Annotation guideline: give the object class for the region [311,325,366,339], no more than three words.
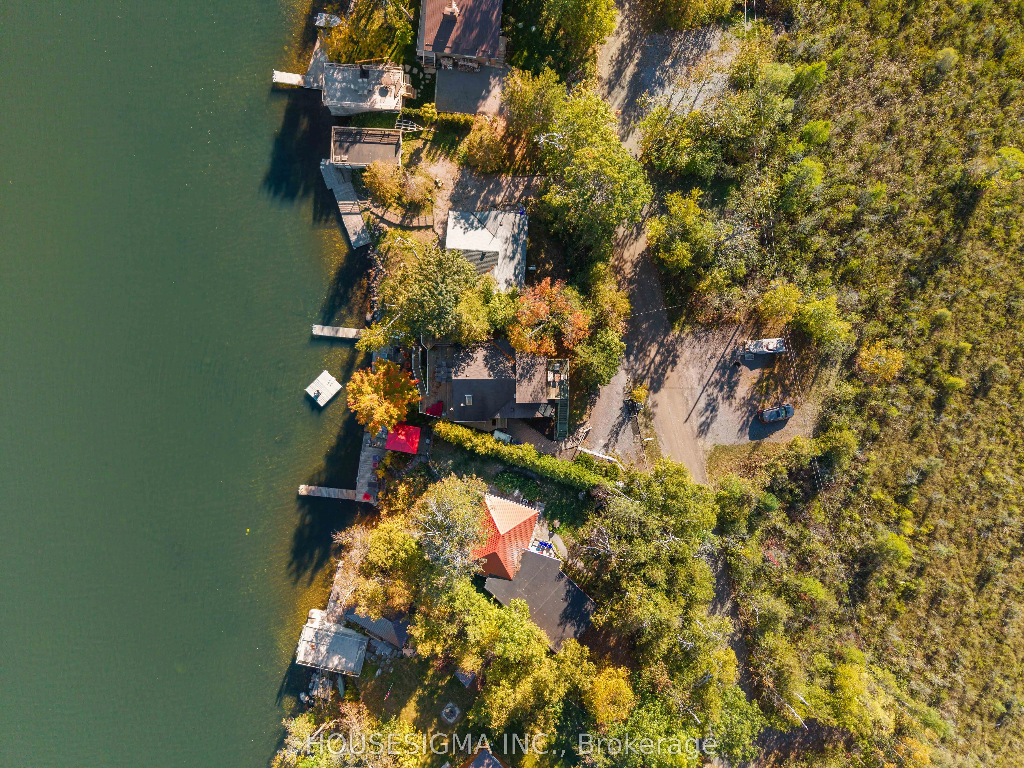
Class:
pier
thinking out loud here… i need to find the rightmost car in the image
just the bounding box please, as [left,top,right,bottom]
[754,403,794,424]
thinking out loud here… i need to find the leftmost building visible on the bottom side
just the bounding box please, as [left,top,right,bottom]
[297,622,369,677]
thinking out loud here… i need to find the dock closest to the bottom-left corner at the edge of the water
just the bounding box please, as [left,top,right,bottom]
[297,485,356,500]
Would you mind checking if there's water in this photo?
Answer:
Yes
